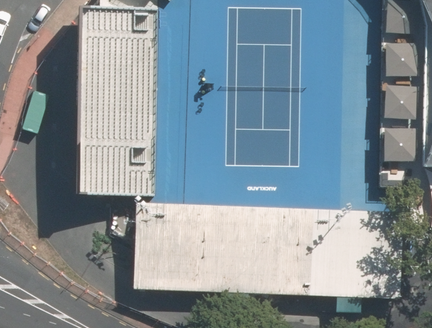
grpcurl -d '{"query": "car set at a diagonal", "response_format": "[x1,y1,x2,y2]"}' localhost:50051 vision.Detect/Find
[28,3,51,33]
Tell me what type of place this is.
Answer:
sports ground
